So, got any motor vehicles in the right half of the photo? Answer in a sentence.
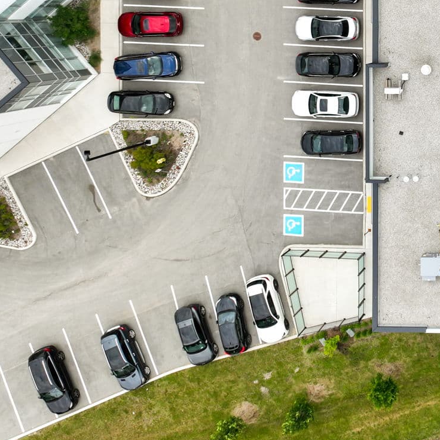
Yes, a motor vehicle shows up in the right half of the photo.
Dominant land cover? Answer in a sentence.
The largest share of the image is taken up by paved ground.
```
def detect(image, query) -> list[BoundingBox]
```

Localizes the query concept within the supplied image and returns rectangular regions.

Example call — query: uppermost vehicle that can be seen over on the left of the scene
[116,8,183,41]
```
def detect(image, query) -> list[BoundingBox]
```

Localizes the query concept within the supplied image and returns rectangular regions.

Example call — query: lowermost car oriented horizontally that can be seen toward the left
[105,88,175,120]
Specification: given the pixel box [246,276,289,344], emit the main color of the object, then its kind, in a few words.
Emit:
white car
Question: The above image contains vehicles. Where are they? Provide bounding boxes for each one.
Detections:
[116,8,183,41]
[300,128,362,160]
[246,276,289,344]
[294,12,360,44]
[28,347,78,416]
[105,88,175,120]
[173,302,218,368]
[291,88,360,121]
[110,50,182,81]
[294,0,361,7]
[209,293,255,361]
[293,49,361,80]
[97,325,149,393]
